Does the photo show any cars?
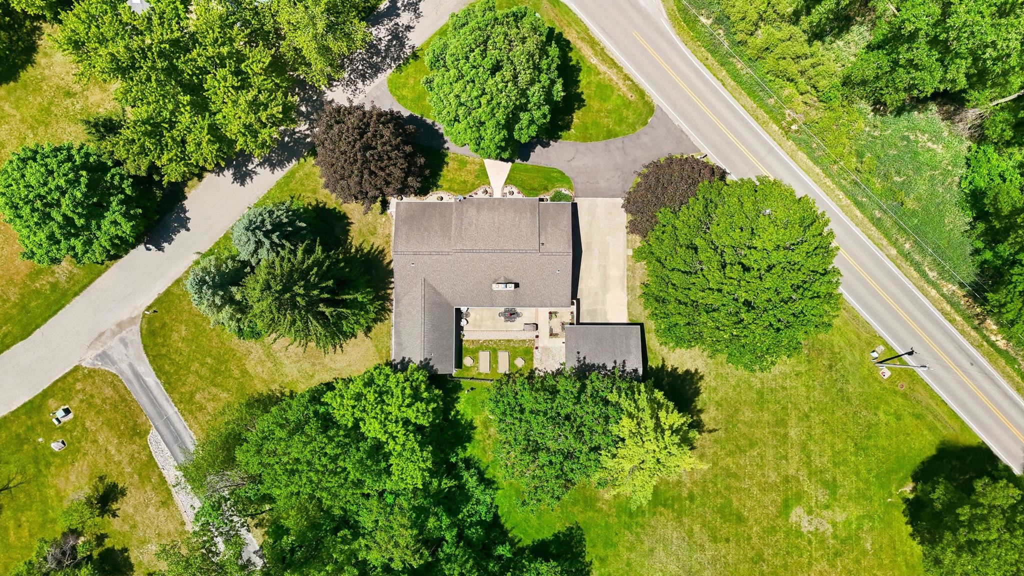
No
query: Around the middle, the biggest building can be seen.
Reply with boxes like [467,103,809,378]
[390,197,573,374]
